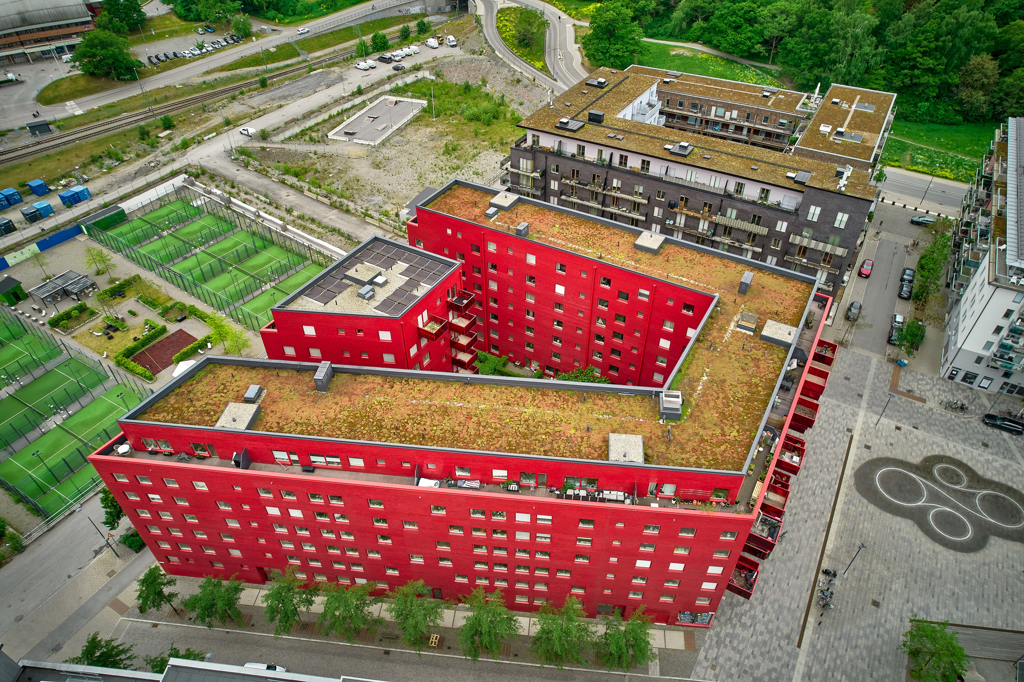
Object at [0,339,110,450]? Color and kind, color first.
green sports court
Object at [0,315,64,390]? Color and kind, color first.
green sports court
